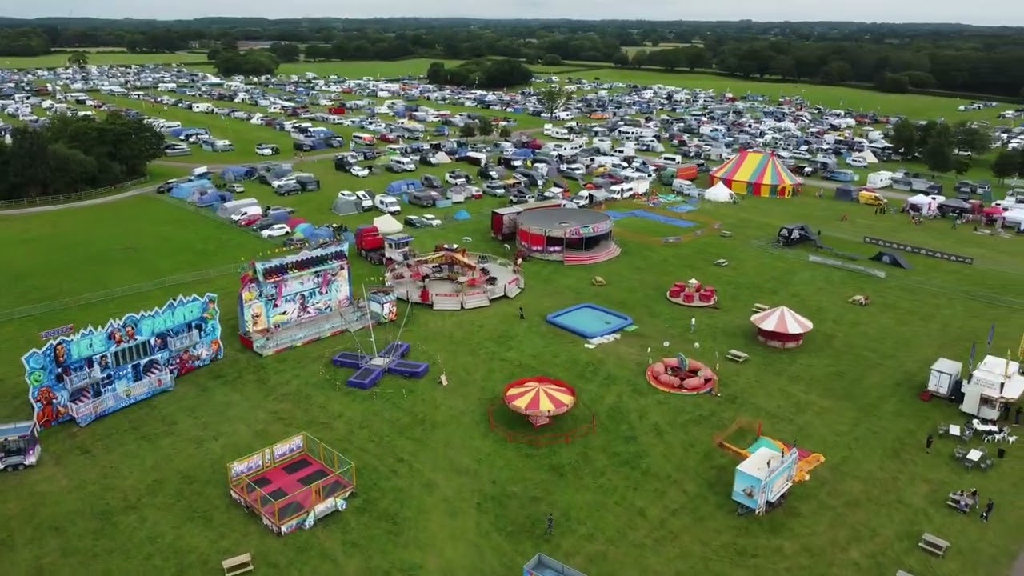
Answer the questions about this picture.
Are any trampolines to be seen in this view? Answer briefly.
Yes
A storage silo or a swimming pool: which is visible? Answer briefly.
swimming pool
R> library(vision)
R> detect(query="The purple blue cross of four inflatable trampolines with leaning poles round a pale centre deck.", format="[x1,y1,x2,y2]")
[325,280,433,395]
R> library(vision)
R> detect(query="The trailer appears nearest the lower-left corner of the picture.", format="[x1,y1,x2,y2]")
[0,416,37,471]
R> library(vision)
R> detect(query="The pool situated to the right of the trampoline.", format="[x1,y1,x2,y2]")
[545,298,636,338]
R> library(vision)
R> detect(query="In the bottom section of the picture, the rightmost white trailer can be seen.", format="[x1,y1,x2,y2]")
[961,362,1024,416]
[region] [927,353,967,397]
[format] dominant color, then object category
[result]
white trailer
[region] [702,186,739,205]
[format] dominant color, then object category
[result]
white tent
